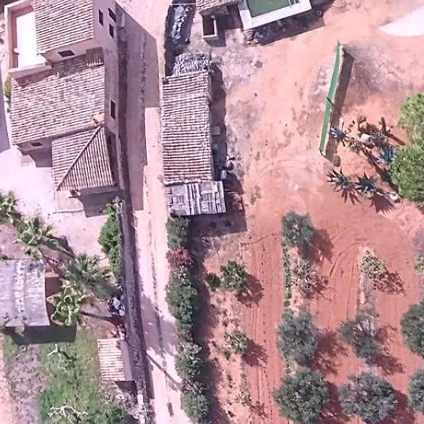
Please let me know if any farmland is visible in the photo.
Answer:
Yes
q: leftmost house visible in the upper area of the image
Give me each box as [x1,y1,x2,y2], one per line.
[3,0,119,200]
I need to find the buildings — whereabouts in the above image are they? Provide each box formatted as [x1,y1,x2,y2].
[0,258,57,330]
[96,340,130,382]
[160,69,215,186]
[196,0,240,16]
[3,0,119,200]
